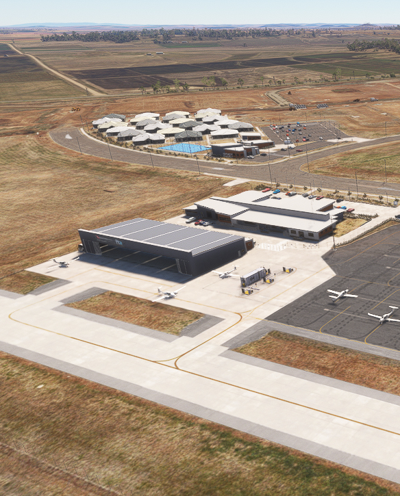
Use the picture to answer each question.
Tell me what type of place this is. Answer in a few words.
airport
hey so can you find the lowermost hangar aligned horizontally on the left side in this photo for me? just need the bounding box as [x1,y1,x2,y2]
[74,218,244,275]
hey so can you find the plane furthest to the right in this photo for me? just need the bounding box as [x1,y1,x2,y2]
[369,305,400,324]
